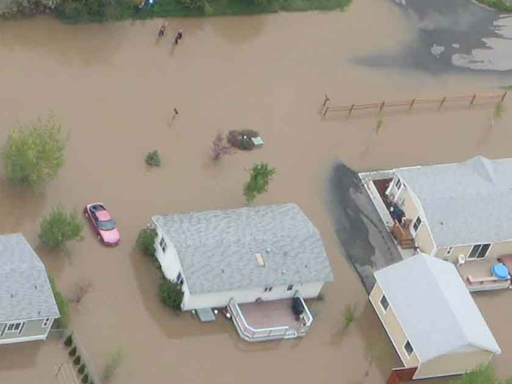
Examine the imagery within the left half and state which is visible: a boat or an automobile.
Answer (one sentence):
The one visible within the left half is an automobile.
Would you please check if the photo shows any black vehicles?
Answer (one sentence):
No, this view has no black vehicle in it.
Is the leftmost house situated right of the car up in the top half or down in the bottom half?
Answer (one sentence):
Seen from above, the leftmost house situated right of the car lies in the bottom half of the view.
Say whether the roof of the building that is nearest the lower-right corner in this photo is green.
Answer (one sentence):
No, the roof of the building that is nearest the lower-right corner is actually white.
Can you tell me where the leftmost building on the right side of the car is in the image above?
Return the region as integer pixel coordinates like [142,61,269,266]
[152,204,333,310]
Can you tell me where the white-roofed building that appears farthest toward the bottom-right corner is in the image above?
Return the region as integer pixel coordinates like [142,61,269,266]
[369,258,502,378]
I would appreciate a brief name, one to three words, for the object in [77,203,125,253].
car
